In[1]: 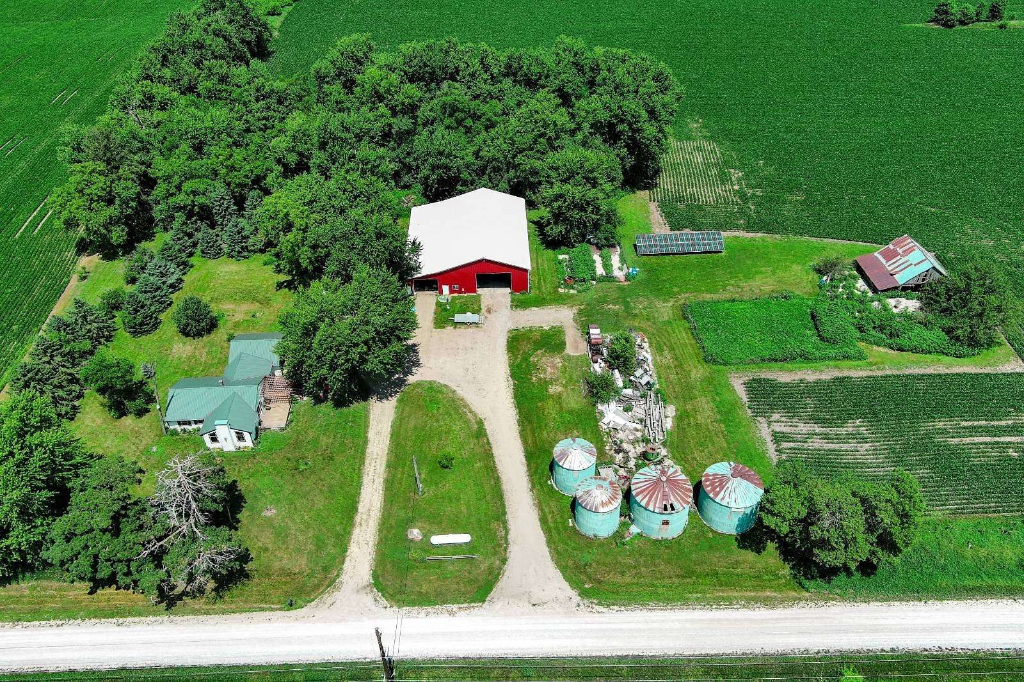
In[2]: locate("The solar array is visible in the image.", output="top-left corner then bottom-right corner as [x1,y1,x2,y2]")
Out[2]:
[635,232,724,256]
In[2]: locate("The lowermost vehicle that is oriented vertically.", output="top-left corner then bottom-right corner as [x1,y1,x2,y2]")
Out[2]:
[587,324,604,362]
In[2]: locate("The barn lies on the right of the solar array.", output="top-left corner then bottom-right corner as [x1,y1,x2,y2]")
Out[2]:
[855,234,949,302]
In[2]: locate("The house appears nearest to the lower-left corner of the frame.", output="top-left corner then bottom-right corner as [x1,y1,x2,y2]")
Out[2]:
[165,332,297,449]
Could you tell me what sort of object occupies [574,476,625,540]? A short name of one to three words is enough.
silo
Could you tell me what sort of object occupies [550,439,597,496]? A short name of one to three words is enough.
silo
